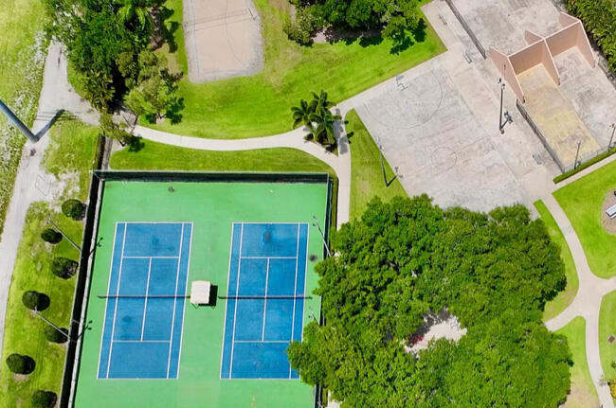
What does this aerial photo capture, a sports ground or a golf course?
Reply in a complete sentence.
The picture captures a sports ground.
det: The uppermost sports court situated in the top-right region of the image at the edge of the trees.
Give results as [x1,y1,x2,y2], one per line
[433,0,564,78]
